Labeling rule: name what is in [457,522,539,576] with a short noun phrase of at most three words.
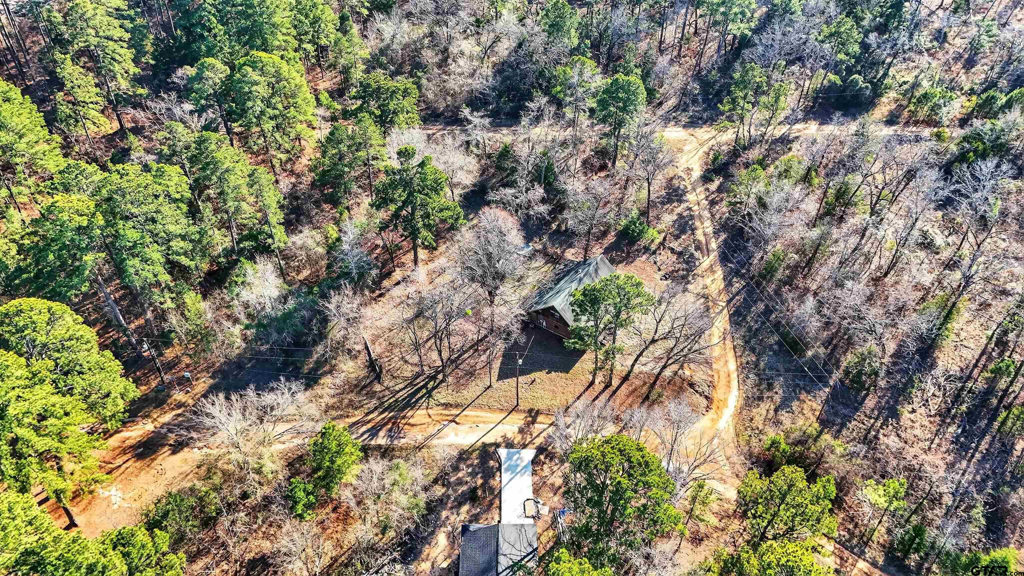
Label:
house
